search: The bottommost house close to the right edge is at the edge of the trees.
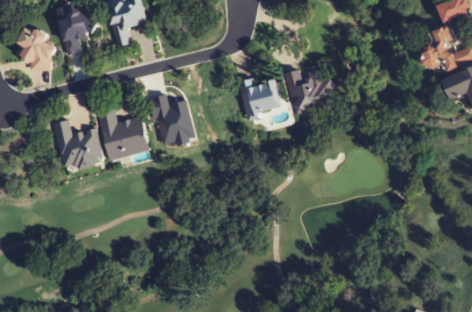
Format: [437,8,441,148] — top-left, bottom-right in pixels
[440,66,472,102]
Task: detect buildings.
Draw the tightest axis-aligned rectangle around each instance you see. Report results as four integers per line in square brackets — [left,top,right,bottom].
[20,28,57,76]
[286,69,335,111]
[101,112,151,159]
[440,66,472,102]
[56,2,94,54]
[240,78,282,120]
[52,119,105,171]
[422,26,472,72]
[108,0,146,42]
[437,0,472,21]
[152,94,194,146]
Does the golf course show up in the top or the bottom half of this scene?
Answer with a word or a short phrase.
bottom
